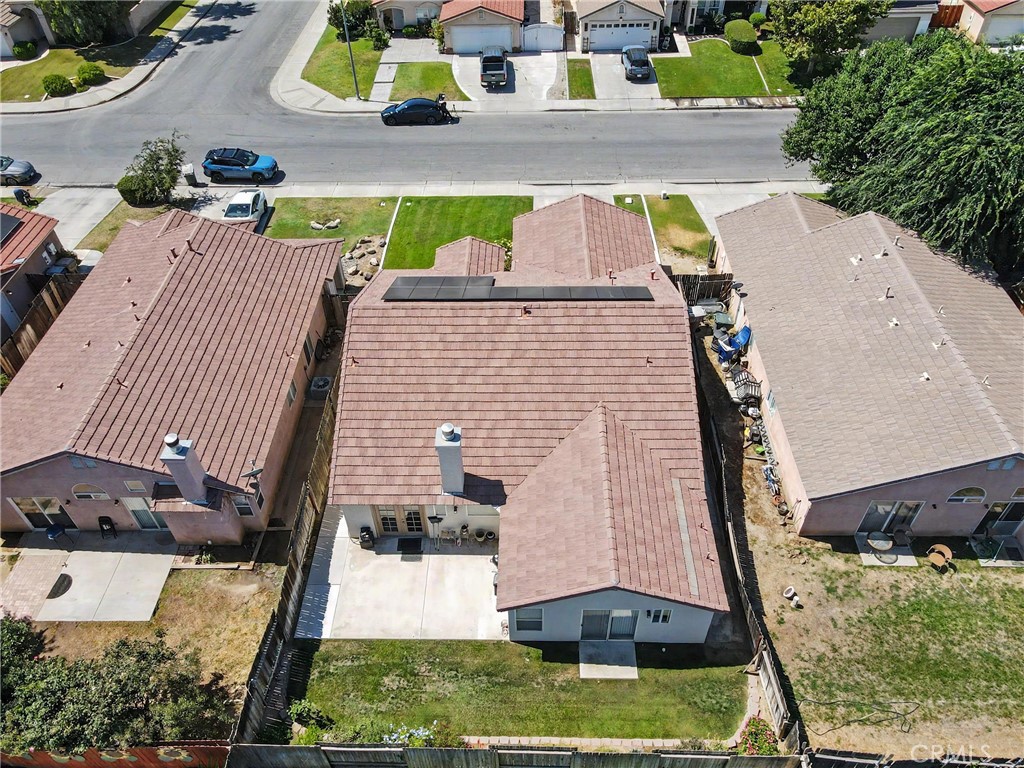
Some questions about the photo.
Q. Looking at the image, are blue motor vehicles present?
Yes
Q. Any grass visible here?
Yes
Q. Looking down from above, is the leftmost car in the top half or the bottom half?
top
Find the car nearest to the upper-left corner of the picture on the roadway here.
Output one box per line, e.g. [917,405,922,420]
[0,155,40,186]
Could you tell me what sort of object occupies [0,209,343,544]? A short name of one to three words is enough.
house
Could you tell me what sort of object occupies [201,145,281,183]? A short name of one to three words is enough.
car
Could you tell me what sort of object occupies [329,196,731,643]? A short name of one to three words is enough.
house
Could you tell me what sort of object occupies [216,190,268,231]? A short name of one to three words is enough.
car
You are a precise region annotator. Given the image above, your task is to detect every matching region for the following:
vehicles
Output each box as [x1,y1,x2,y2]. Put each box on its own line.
[0,155,40,186]
[216,190,268,231]
[619,45,649,76]
[379,91,447,125]
[481,43,512,84]
[201,145,281,183]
